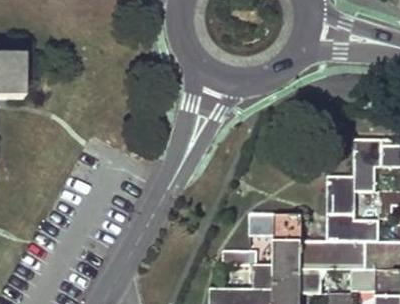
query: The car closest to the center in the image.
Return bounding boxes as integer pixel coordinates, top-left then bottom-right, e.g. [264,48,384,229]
[122,182,140,197]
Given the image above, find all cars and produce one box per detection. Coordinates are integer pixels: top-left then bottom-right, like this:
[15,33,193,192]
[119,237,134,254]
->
[274,60,293,72]
[108,209,126,223]
[36,233,54,248]
[22,256,40,268]
[2,286,22,302]
[69,274,86,288]
[61,282,80,298]
[122,182,140,197]
[28,244,45,258]
[50,212,68,226]
[96,232,114,246]
[102,220,120,234]
[84,253,102,267]
[40,222,59,236]
[0,298,11,304]
[56,202,74,215]
[79,153,97,166]
[8,276,28,290]
[375,30,394,41]
[15,266,33,280]
[62,190,80,204]
[78,263,98,278]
